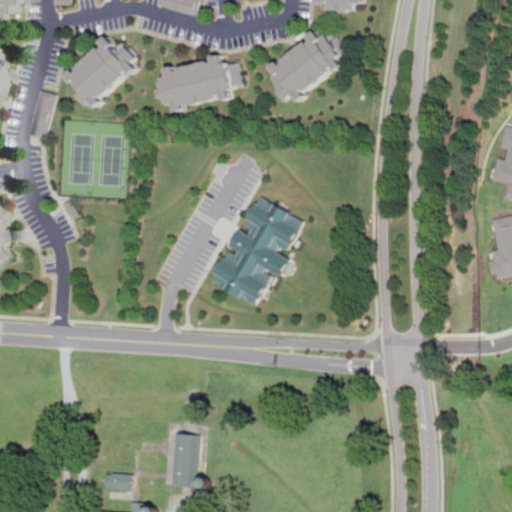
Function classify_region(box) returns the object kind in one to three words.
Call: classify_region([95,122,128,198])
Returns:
tennis court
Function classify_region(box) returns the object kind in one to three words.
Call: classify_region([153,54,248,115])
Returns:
building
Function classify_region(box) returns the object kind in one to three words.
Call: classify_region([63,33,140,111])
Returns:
building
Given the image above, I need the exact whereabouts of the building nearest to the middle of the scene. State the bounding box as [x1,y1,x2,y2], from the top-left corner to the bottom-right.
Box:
[211,194,306,306]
